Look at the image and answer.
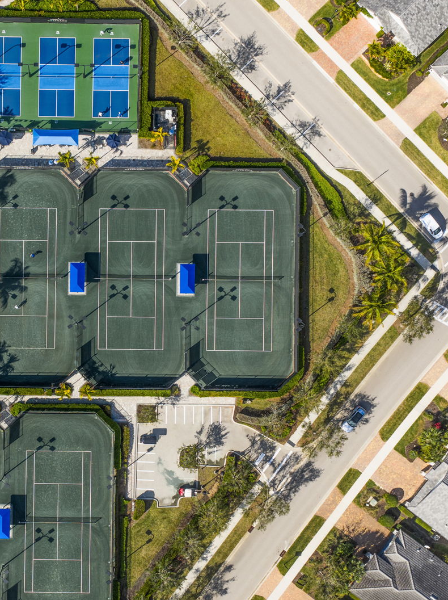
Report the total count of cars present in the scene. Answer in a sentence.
Looking from above, you can make out 2 cars.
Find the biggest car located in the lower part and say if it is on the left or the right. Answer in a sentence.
You can find the biggest car located in the lower part on the right side of the picture.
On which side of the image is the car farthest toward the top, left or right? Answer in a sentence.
The car farthest toward the top appears in the right half of the scene.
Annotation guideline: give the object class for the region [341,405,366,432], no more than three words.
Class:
car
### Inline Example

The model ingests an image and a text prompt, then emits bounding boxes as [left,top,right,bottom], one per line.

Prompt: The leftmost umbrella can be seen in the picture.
[0,131,12,147]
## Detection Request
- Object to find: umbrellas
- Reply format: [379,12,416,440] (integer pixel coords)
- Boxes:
[105,133,120,149]
[0,131,12,147]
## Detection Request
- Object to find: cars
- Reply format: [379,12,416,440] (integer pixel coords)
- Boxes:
[341,405,366,432]
[419,210,442,241]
